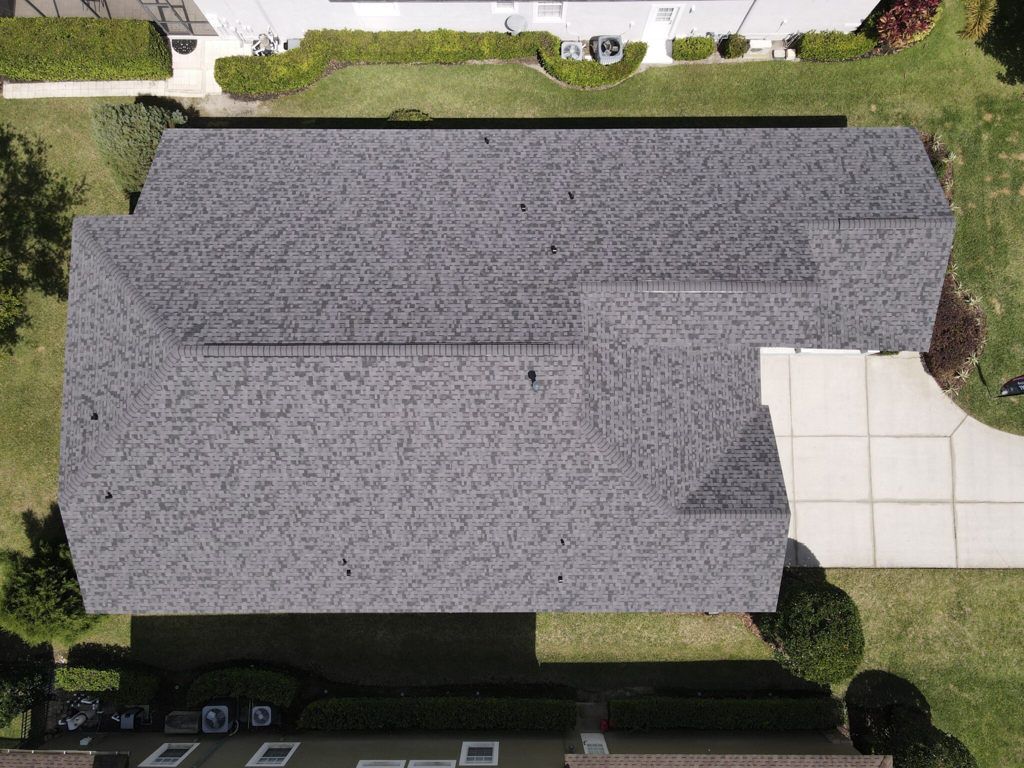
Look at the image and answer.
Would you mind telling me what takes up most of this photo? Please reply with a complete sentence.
What you mostly see from above here is buildings.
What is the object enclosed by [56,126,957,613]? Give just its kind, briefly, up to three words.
house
